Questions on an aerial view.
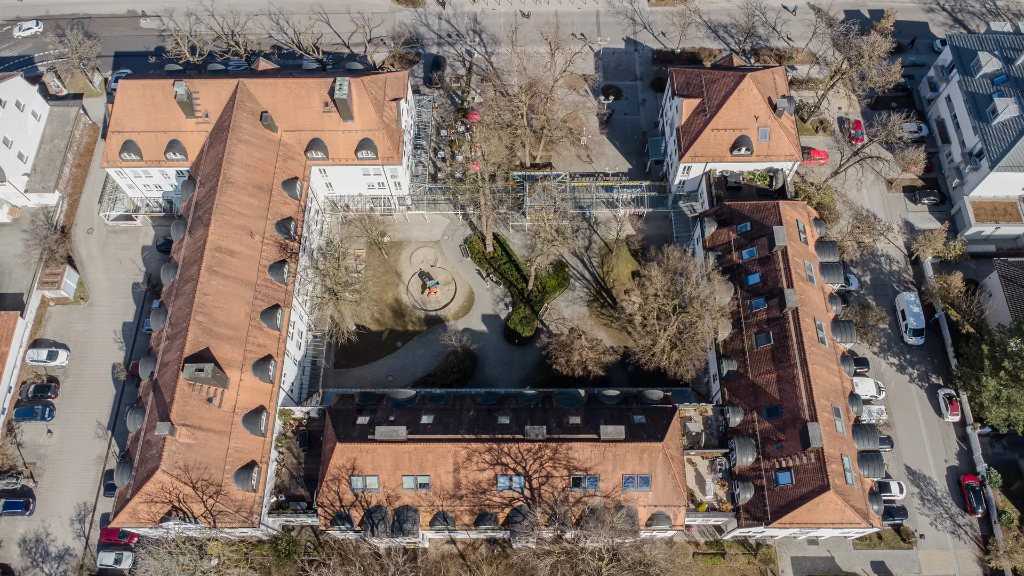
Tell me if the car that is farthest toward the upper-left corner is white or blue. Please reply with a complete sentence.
The color of the car that is farthest toward the upper-left corner is white.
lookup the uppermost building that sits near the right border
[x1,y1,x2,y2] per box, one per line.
[911,15,1024,215]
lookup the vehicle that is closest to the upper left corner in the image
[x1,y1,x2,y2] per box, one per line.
[12,20,48,44]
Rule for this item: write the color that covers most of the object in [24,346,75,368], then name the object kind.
white car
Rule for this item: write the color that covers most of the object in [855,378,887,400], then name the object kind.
white vehicle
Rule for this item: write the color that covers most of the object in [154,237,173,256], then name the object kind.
black car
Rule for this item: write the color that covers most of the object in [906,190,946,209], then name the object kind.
black car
